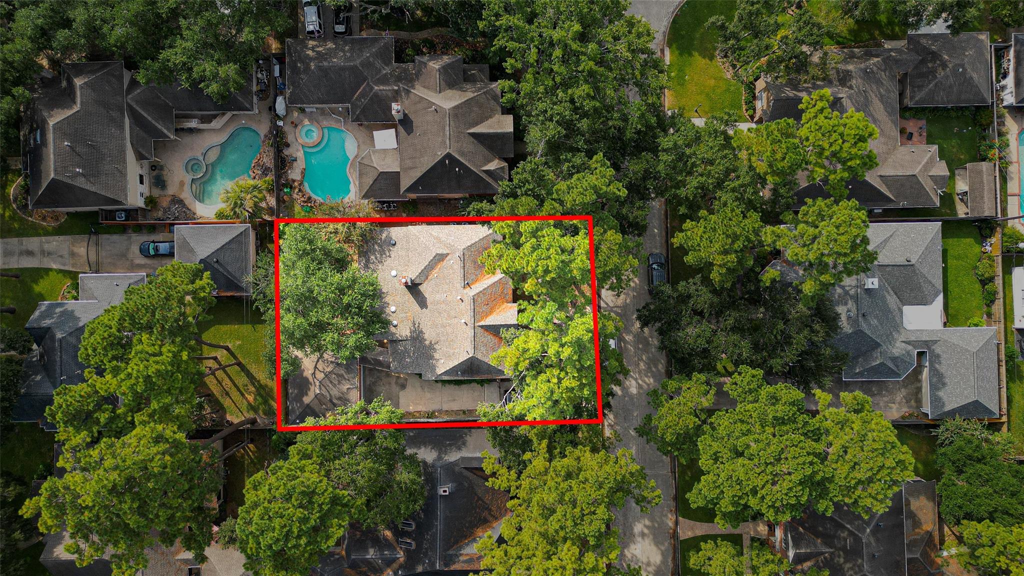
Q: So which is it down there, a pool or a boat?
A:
pool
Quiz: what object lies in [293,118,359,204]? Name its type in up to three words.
swimming pool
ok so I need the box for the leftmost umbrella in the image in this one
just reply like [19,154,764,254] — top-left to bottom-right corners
[374,128,397,148]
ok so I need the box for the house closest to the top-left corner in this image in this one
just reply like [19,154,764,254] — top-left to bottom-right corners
[24,60,153,210]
